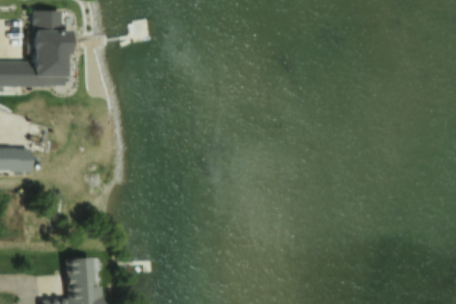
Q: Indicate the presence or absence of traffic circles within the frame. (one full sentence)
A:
No, no traffic circle is visible in the view.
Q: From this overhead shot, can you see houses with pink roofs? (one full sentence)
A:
No, there appears to be no house with a pink roof in this shot.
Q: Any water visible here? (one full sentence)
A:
Yes, water shows up in the scene.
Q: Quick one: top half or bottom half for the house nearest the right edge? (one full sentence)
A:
It is in the bottom half that the house nearest the right edge appears.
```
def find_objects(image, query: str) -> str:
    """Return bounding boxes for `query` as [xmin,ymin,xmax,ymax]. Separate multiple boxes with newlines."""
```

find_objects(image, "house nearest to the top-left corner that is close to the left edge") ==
[0,11,76,86]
